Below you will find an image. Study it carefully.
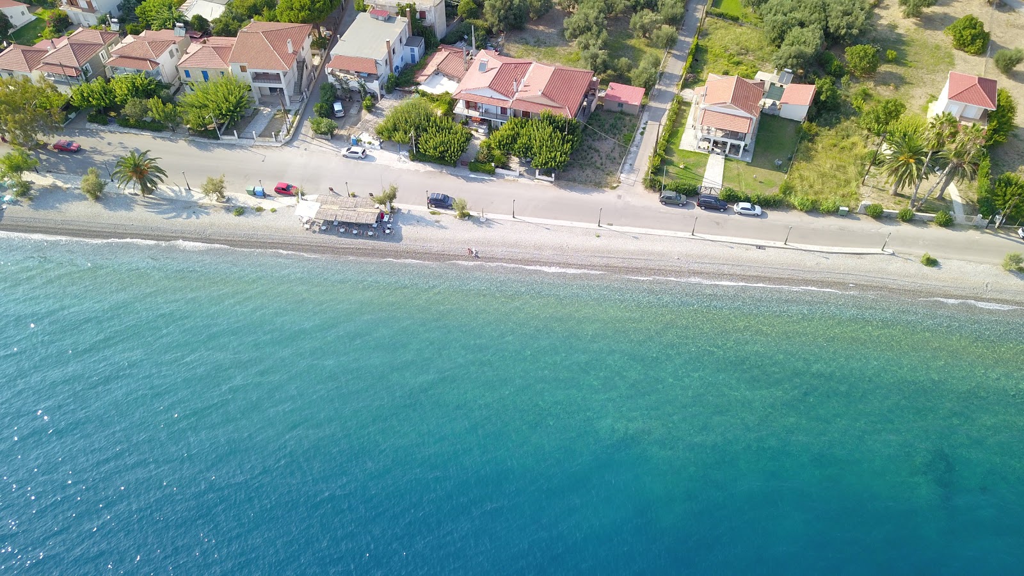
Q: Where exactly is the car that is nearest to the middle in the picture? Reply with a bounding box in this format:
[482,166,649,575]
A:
[428,192,455,209]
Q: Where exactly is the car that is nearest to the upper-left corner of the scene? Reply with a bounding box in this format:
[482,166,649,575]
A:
[54,138,81,152]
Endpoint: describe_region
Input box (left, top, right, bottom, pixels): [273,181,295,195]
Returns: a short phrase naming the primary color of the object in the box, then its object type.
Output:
red car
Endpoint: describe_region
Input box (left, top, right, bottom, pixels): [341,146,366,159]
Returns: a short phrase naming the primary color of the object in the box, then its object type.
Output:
white vehicle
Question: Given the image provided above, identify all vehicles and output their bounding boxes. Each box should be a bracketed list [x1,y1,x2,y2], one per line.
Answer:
[1016,229,1024,239]
[54,138,81,152]
[341,146,366,159]
[698,194,728,212]
[658,190,686,207]
[332,100,344,114]
[428,192,455,209]
[273,181,295,195]
[733,201,763,216]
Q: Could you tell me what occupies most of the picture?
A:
water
